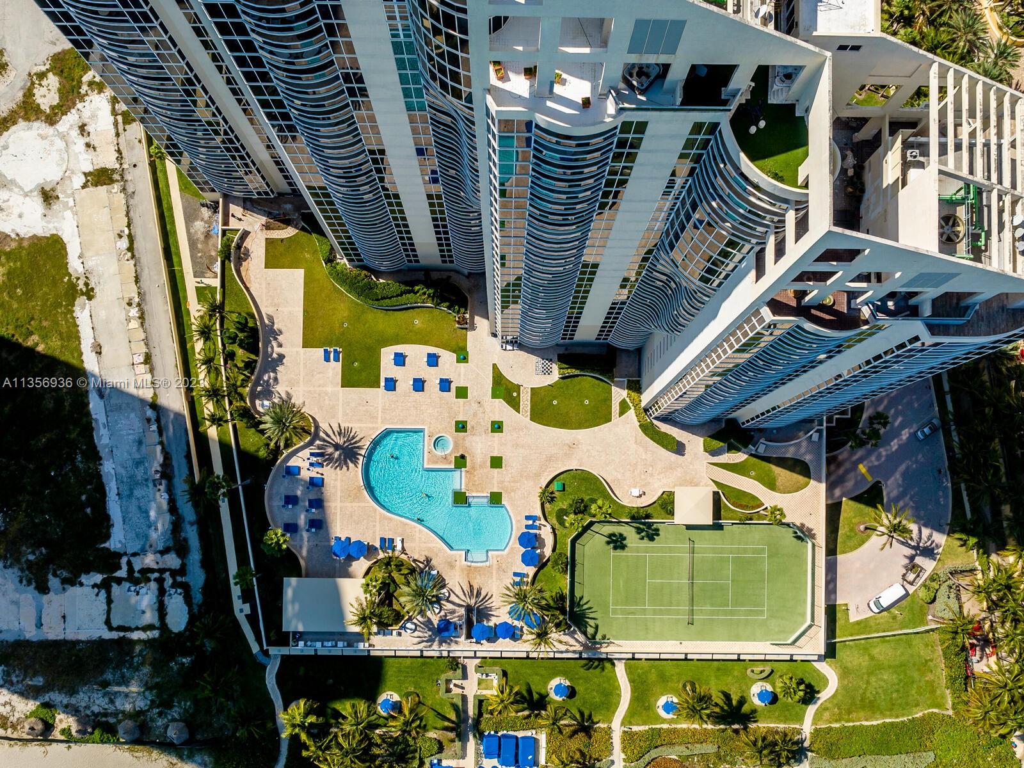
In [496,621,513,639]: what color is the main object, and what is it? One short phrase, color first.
blue umbrella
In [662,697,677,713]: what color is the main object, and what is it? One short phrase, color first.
blue umbrella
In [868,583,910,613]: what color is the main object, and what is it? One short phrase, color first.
white van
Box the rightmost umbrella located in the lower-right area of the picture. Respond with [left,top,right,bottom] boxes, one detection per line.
[756,688,771,703]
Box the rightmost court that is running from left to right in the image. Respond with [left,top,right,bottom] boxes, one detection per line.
[570,522,811,642]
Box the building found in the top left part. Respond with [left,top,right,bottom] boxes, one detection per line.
[35,0,498,280]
